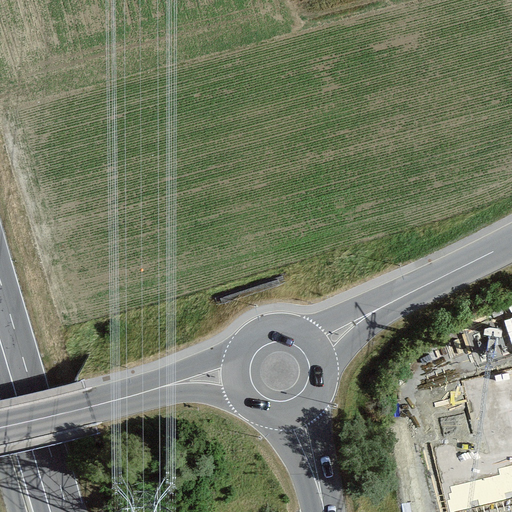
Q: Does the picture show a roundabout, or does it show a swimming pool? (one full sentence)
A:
The image shows a roundabout.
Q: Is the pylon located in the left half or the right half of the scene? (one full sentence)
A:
The pylon appears in the left half of the scene.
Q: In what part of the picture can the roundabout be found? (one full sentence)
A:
The roundabout appears toward the bottom of the photo.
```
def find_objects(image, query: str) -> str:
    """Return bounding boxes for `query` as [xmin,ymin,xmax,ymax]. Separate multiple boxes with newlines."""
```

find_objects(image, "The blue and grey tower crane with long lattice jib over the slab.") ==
[468,328,498,512]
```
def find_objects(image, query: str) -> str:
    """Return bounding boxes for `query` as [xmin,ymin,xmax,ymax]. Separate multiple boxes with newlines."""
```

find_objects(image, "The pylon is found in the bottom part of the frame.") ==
[114,468,173,512]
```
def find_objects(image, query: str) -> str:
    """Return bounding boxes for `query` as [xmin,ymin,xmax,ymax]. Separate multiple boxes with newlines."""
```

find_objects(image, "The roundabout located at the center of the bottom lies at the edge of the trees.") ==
[222,314,338,430]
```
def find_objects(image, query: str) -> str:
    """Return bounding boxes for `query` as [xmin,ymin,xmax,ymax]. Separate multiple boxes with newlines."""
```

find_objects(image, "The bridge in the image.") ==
[0,354,102,456]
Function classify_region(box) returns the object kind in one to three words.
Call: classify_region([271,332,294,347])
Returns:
car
